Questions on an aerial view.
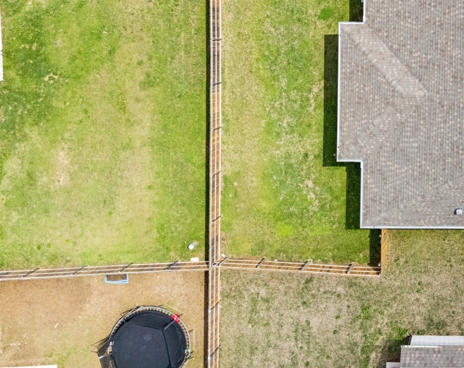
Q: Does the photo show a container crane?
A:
No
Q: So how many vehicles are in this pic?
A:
none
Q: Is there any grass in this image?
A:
Yes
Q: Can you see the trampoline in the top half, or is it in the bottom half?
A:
bottom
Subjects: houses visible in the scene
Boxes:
[334,0,464,231]
[400,335,464,368]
